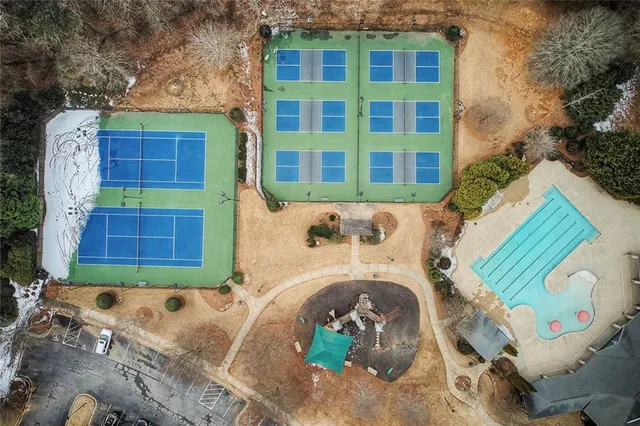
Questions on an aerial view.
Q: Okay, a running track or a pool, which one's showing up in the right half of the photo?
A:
pool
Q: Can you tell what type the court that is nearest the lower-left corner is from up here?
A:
tennis court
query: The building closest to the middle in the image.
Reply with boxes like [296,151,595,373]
[340,219,372,235]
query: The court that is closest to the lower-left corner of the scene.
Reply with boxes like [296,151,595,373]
[72,206,205,267]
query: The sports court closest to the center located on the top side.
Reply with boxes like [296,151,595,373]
[275,150,346,183]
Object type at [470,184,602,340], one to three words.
swimming pool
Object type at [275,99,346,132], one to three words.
sports court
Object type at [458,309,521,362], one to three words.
building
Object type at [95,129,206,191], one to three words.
tennis court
